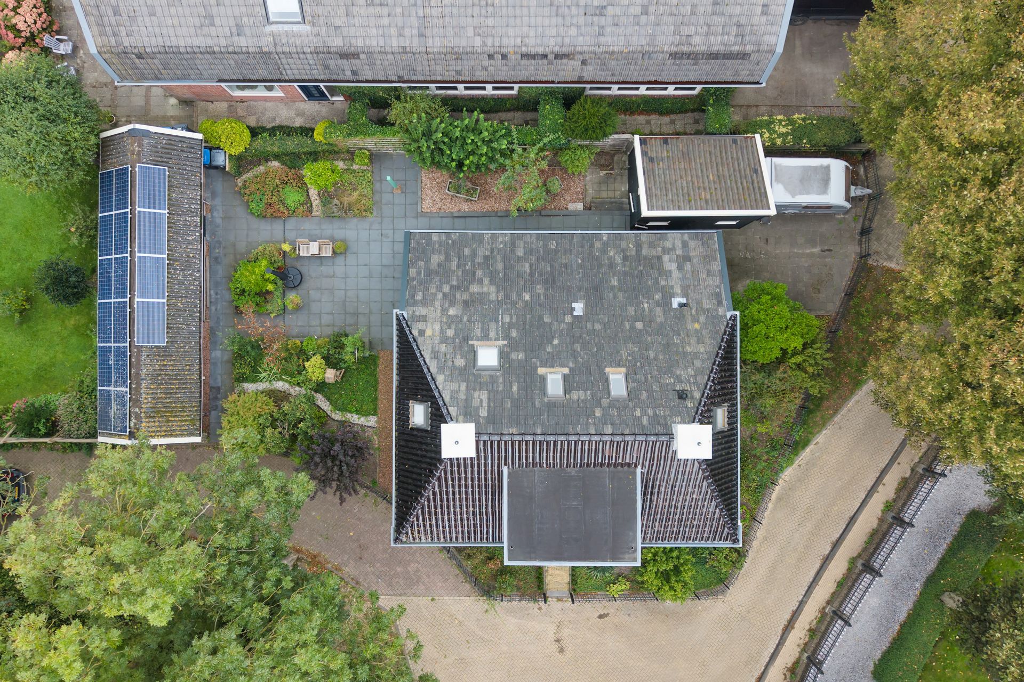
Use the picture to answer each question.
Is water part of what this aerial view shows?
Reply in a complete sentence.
No, there's no water in this view.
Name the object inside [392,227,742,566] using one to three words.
house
